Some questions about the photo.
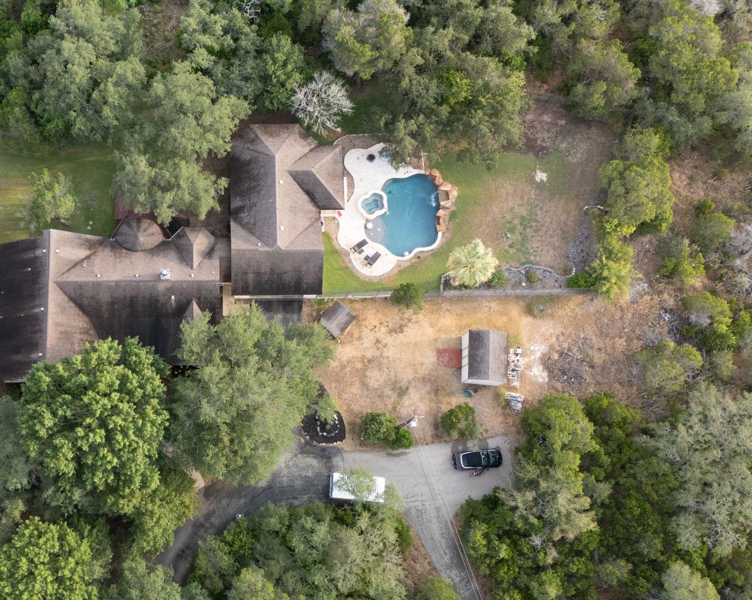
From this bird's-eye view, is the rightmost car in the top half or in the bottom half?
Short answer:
bottom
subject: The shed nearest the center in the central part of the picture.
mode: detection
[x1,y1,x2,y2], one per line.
[320,302,355,339]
